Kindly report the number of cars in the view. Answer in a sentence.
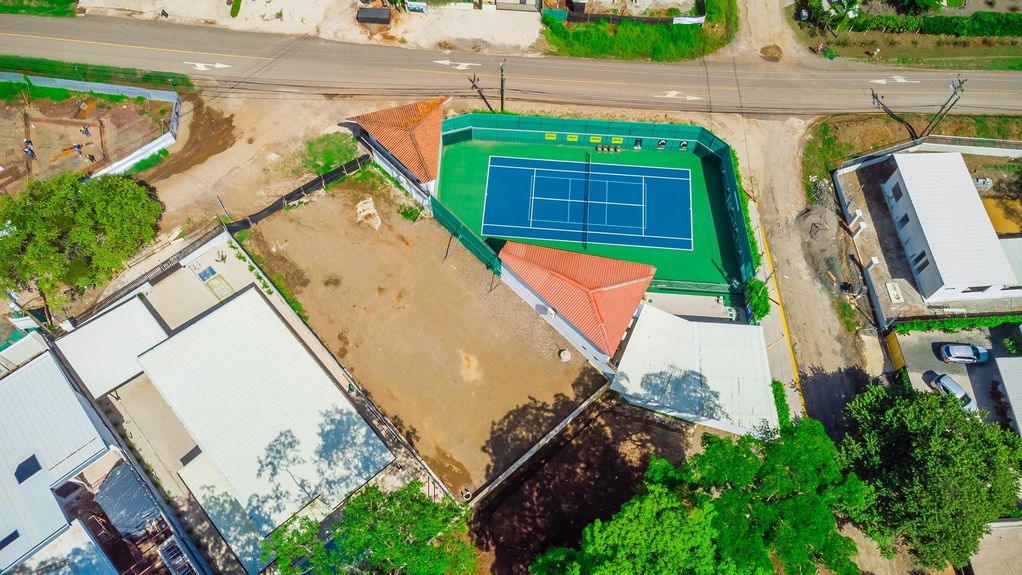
Altogether the scene contains 2 cars.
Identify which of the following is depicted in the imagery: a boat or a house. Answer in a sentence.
Of the two, only a house appears.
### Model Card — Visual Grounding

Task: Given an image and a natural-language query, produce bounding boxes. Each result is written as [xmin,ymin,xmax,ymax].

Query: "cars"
[941,343,993,367]
[932,372,976,406]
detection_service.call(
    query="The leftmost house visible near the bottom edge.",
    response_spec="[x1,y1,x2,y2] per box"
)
[0,350,125,575]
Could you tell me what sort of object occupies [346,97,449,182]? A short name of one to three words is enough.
building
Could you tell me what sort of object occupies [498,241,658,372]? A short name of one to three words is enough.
building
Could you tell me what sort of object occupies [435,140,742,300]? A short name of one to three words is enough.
tennis court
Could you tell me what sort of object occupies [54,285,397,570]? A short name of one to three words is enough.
house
